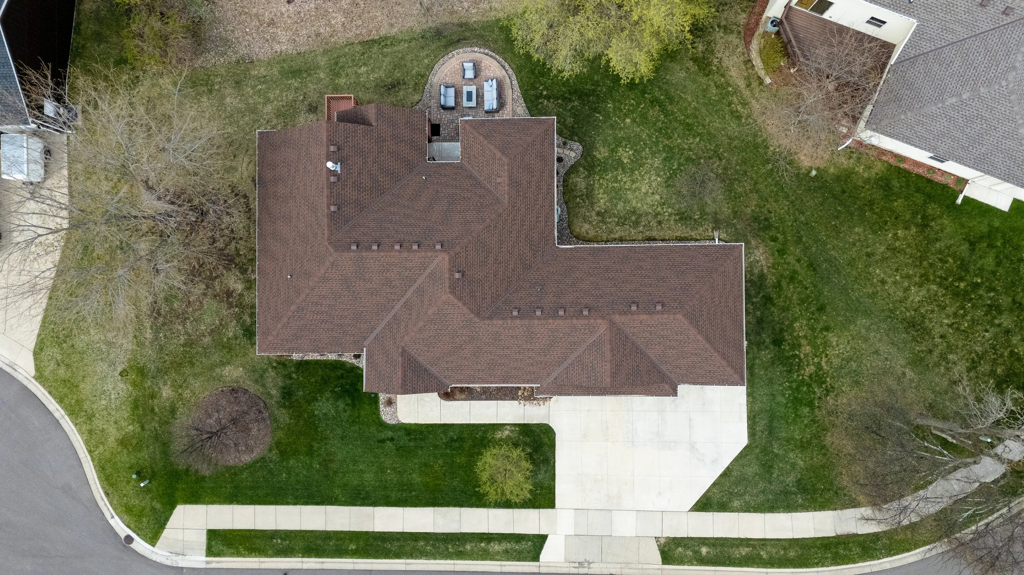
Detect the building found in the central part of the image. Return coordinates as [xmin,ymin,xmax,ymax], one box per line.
[255,106,747,399]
